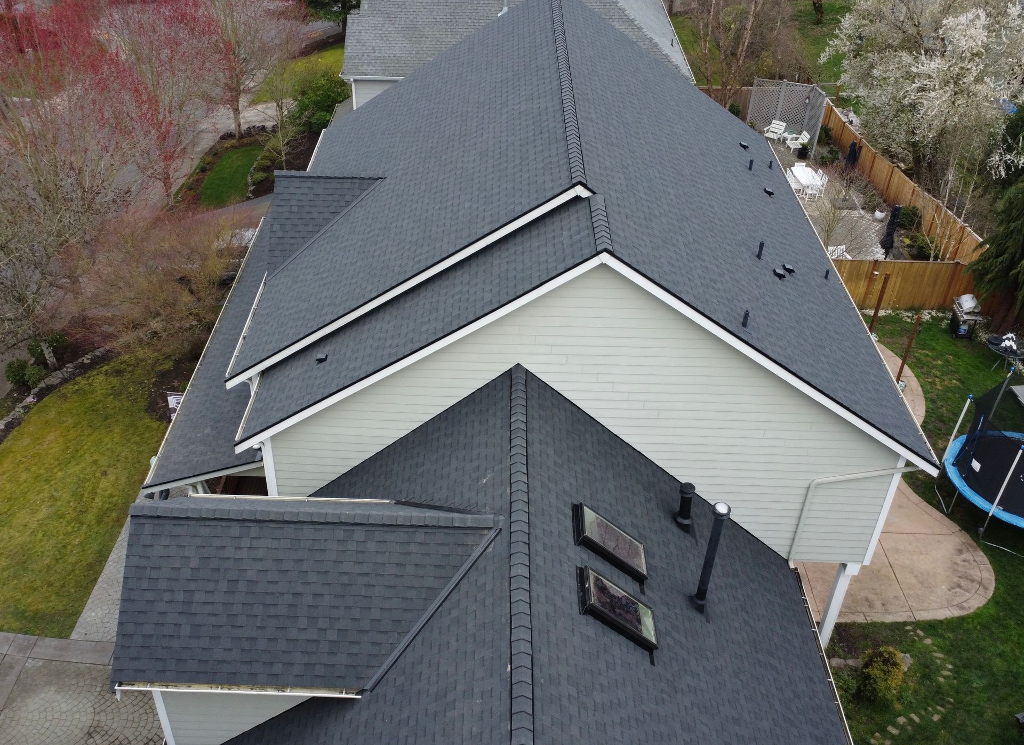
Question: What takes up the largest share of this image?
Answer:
buildings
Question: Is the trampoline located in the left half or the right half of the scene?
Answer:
right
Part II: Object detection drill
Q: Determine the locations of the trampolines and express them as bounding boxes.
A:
[930,369,1024,541]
